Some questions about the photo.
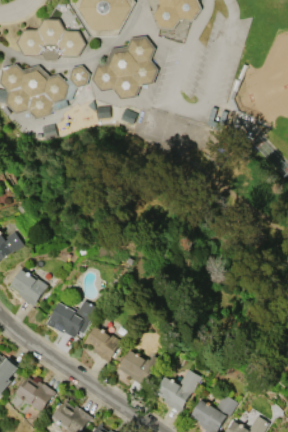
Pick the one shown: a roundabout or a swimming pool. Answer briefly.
swimming pool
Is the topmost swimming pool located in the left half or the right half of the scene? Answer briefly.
left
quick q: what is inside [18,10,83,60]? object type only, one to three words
building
